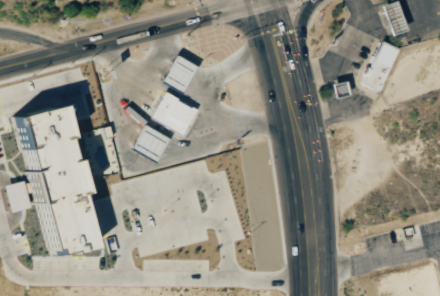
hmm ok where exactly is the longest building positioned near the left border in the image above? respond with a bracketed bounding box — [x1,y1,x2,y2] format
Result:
[14,106,104,254]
